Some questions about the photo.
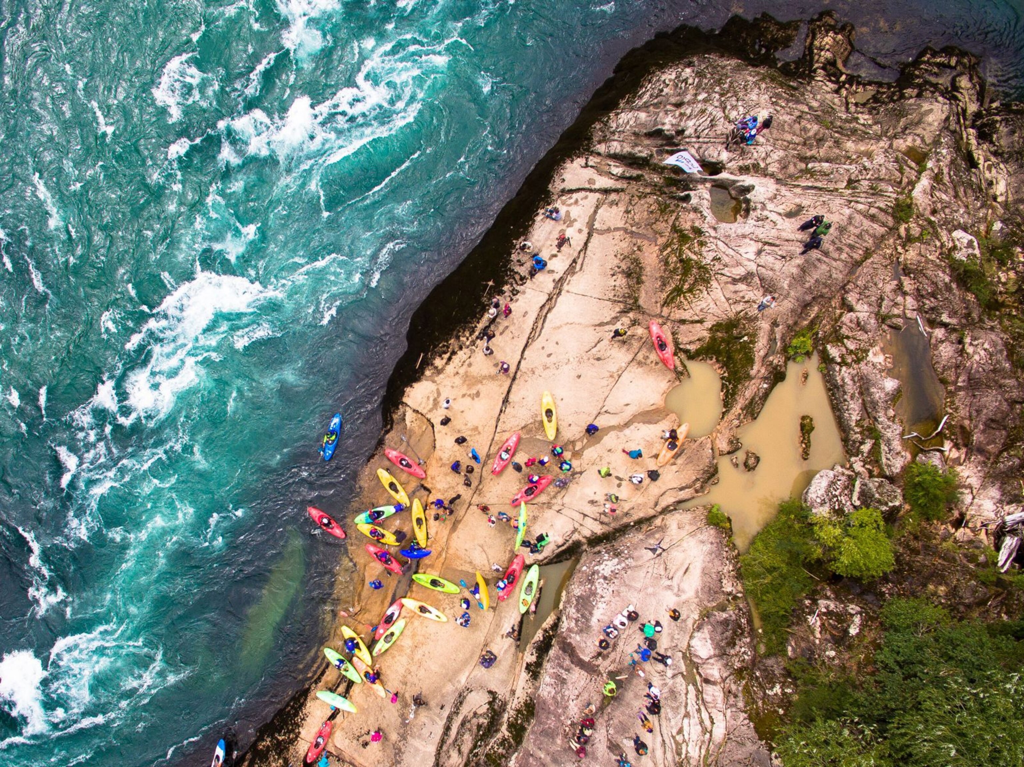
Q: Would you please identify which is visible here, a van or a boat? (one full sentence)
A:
I can see a boat in this picture.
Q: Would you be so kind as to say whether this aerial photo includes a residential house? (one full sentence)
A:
No, no residential house is visible in the view.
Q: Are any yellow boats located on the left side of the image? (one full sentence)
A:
Yes, a yellow boat is visible on the left side of the image.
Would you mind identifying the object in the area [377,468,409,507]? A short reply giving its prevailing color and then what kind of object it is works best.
yellow boat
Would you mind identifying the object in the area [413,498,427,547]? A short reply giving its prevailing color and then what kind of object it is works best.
yellow boat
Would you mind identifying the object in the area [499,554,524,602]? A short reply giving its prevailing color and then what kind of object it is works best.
red boat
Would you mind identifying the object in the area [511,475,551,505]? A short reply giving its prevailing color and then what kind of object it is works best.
red boat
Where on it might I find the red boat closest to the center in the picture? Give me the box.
[493,433,519,474]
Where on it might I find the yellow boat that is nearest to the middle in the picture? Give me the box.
[542,391,556,440]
